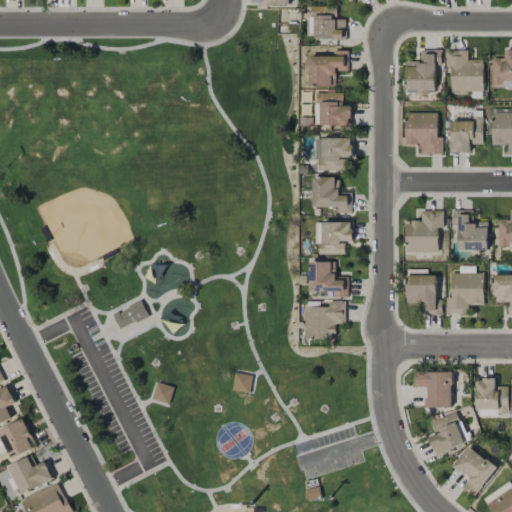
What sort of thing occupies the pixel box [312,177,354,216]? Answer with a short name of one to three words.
house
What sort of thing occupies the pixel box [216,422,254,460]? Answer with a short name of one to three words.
sports court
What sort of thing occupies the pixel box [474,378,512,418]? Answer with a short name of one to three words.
house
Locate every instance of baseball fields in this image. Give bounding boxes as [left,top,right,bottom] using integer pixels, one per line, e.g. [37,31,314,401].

[38,186,133,266]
